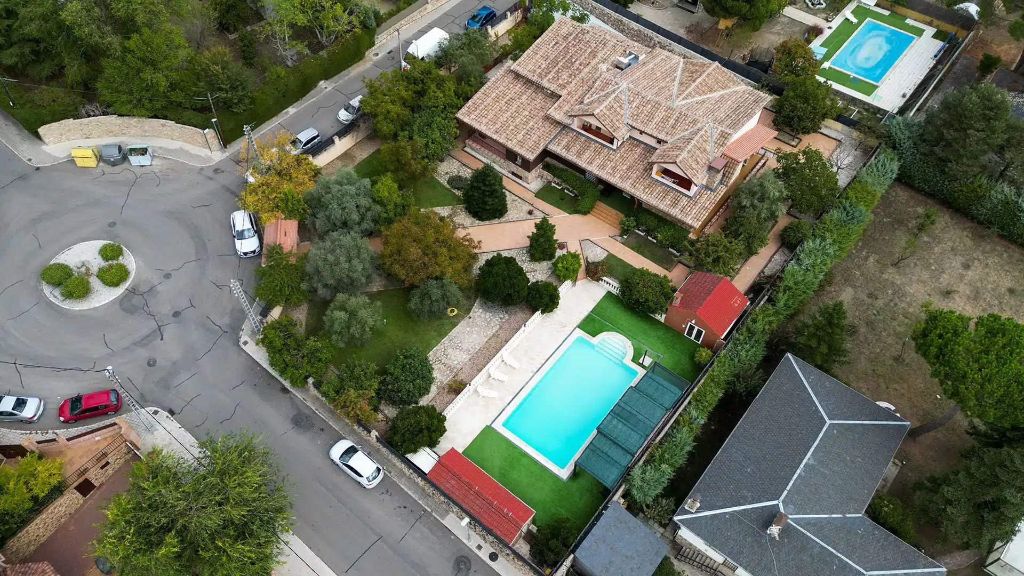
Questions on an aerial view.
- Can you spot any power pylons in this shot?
Yes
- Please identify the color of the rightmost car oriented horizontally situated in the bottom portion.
red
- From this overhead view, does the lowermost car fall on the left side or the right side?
left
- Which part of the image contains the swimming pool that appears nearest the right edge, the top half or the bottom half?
top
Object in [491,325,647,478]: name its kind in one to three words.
swimming pool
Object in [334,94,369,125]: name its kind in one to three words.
car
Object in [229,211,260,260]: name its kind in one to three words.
car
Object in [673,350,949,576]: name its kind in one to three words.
house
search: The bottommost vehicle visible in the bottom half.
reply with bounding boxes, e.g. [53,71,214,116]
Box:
[326,440,388,491]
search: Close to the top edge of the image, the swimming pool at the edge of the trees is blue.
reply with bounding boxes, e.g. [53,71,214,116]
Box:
[827,13,919,86]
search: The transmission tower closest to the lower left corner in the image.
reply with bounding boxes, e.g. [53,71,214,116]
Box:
[94,366,157,434]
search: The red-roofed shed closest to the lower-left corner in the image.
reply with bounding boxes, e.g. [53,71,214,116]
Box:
[426,447,537,545]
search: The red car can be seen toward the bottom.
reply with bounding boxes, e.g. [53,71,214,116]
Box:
[59,389,122,422]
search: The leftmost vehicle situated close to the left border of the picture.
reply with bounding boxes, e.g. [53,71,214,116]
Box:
[0,389,47,424]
